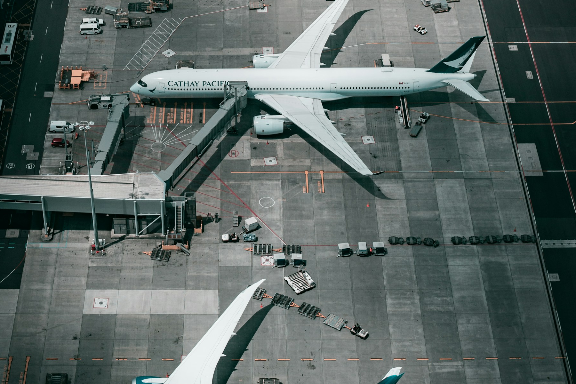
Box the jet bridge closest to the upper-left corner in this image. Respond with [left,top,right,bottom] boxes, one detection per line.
[84,92,133,174]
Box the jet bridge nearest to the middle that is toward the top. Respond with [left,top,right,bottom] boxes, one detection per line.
[158,77,247,213]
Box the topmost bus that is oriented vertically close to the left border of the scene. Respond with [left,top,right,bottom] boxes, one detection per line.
[0,23,20,68]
